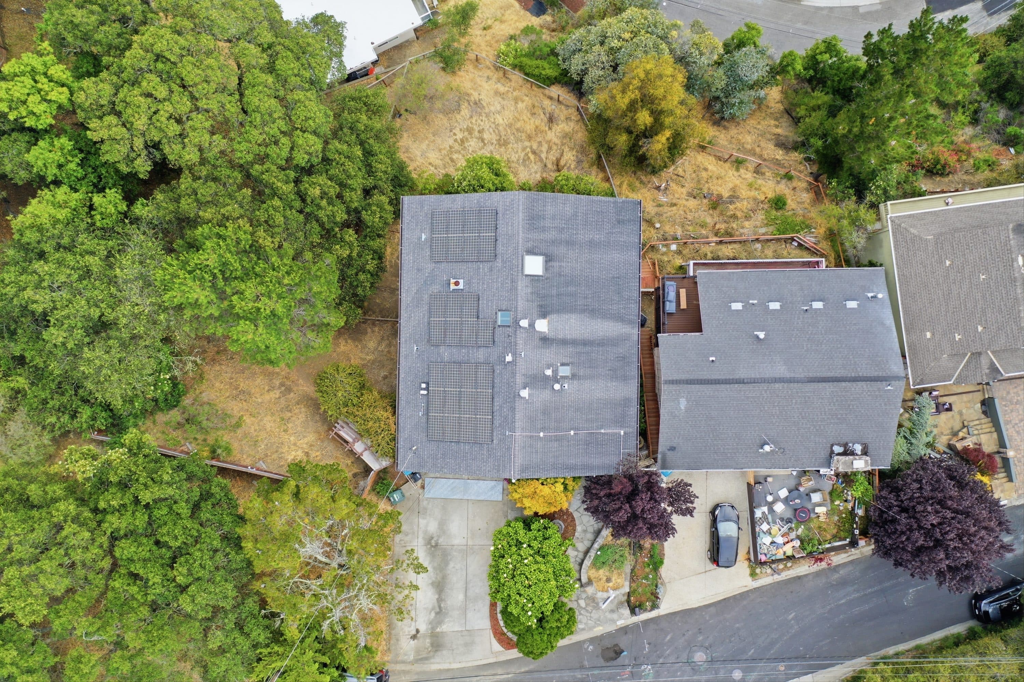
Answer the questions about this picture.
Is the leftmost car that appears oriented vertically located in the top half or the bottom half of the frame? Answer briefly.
bottom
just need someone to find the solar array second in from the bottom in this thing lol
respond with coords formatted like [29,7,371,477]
[430,294,494,345]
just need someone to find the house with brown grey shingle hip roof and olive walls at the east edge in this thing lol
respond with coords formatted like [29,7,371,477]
[865,181,1024,390]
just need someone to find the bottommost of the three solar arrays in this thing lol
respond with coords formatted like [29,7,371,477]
[428,364,494,443]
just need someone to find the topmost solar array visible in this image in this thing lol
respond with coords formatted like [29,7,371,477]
[432,208,497,261]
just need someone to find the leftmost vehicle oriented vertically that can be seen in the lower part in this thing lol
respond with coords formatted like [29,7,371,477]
[709,503,743,571]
